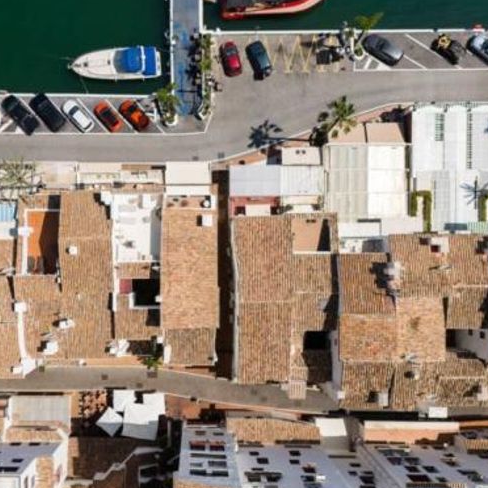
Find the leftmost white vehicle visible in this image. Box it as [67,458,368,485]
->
[63,99,95,135]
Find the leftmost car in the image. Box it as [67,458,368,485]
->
[2,94,39,135]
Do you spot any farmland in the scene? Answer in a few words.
No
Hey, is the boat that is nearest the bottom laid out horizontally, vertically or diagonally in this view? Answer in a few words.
horizontally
